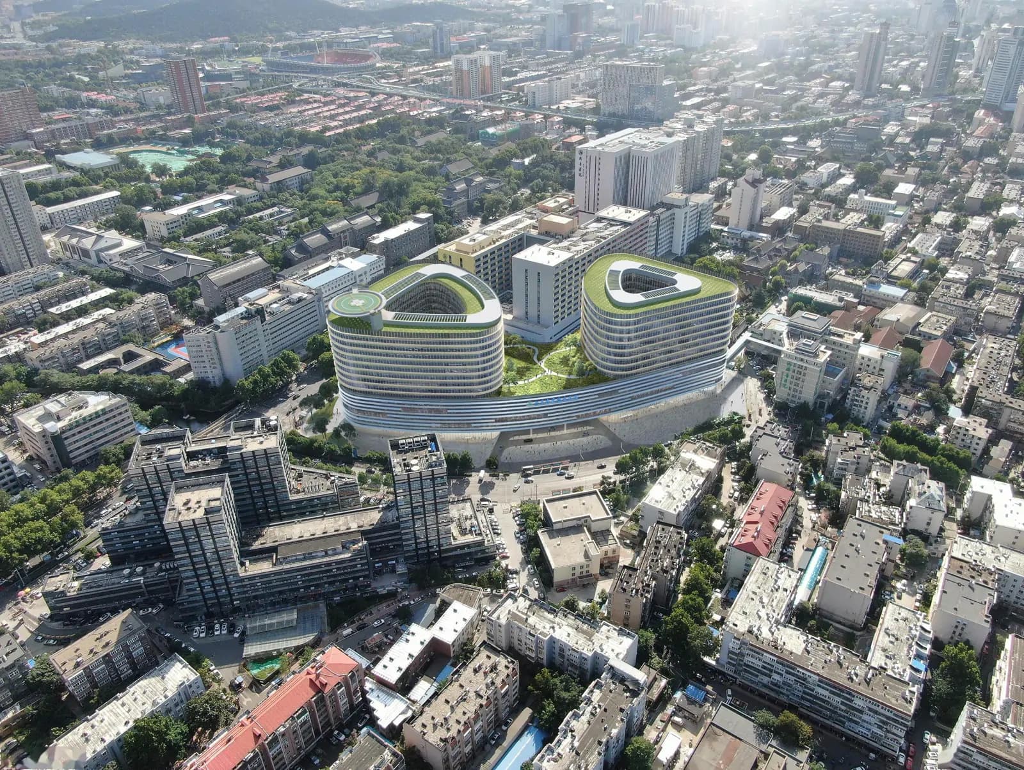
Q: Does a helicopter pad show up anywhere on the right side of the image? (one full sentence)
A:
No, there is no helicopter pad on the right side of the image.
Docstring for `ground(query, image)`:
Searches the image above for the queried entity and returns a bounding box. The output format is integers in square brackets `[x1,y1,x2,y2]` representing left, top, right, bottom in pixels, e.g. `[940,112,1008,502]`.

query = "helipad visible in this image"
[325,285,389,316]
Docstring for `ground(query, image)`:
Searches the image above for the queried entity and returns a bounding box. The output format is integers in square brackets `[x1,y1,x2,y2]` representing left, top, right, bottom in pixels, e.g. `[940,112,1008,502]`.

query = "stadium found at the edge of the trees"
[256,31,382,78]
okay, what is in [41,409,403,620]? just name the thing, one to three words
building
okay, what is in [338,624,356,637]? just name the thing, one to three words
vehicle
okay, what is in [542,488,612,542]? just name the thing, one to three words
building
